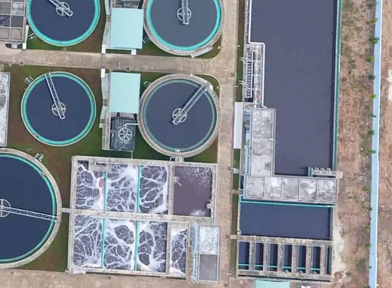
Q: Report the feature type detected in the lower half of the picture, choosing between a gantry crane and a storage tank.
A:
storage tank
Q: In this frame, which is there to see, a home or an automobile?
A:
home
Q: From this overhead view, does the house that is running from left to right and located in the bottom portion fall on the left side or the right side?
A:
right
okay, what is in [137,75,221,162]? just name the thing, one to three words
storage tank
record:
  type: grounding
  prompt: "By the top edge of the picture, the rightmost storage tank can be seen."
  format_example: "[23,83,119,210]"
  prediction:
[140,0,225,59]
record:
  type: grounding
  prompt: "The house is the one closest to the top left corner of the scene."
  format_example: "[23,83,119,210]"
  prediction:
[99,0,144,49]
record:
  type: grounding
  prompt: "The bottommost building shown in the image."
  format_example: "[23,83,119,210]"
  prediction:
[190,224,220,283]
